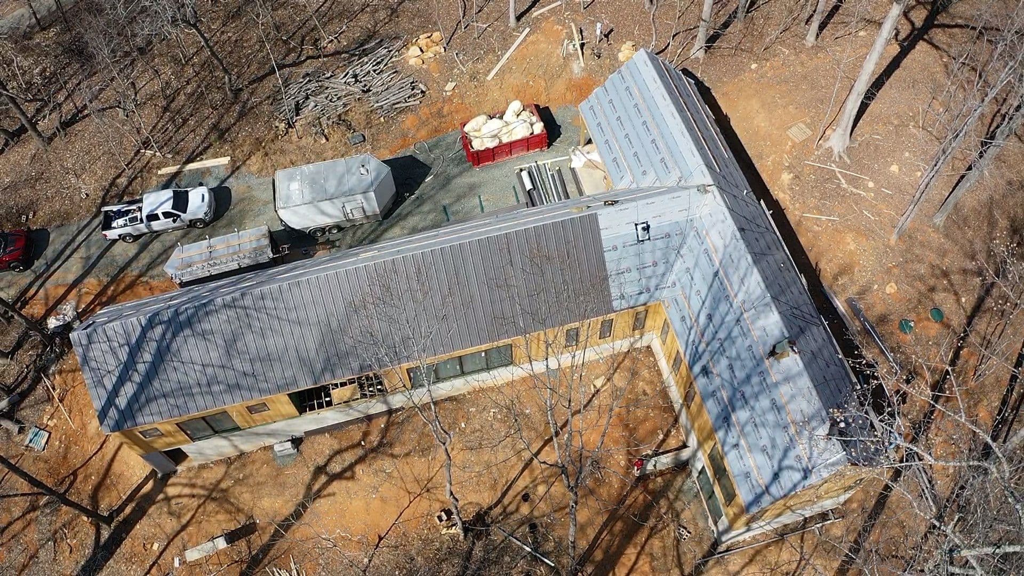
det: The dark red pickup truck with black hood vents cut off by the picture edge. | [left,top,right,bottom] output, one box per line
[0,235,38,278]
